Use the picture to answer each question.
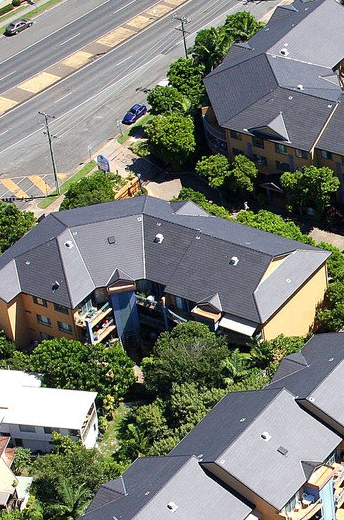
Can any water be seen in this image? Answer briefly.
No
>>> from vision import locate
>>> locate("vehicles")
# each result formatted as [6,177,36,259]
[5,20,30,34]
[121,106,146,122]
[153,78,171,90]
